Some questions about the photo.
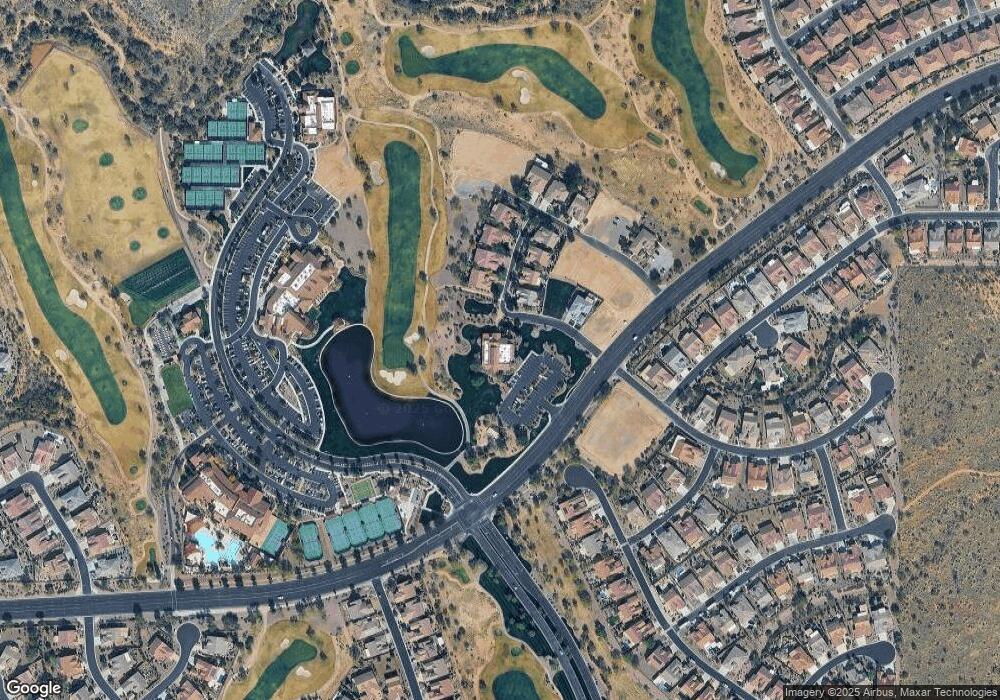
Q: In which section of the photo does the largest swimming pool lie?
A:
bottom left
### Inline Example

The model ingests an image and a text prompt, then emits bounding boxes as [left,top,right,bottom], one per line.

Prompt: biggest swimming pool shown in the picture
[190,525,248,571]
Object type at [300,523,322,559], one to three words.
tennis court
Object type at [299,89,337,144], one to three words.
building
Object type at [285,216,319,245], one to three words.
roundabout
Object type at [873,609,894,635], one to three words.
house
